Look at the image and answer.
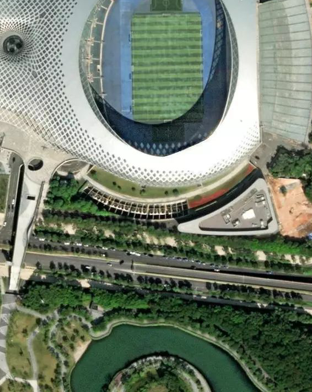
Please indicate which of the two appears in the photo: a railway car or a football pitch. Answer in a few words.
football pitch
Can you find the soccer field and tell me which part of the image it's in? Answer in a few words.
top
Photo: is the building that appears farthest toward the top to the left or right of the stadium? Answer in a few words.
on the right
